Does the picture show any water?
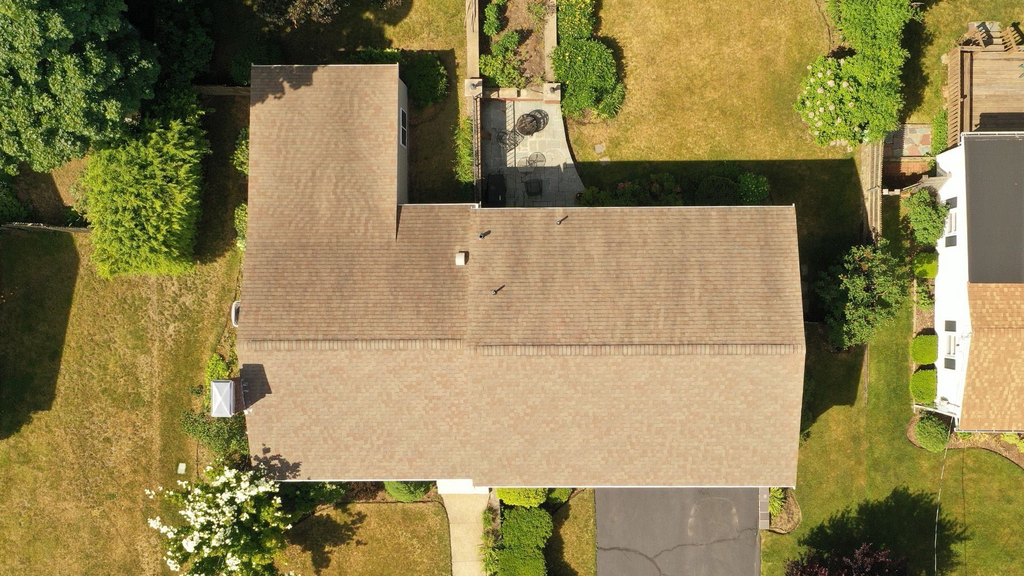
No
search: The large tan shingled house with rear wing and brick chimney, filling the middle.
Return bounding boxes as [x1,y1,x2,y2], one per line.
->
[211,65,805,494]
